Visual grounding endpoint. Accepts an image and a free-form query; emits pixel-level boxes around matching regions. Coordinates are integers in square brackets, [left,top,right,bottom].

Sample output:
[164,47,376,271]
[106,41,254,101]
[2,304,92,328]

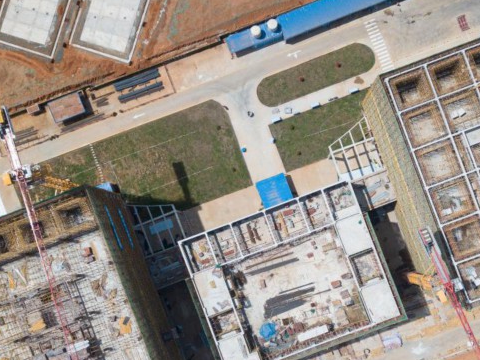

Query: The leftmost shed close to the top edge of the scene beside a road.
[223,15,284,62]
